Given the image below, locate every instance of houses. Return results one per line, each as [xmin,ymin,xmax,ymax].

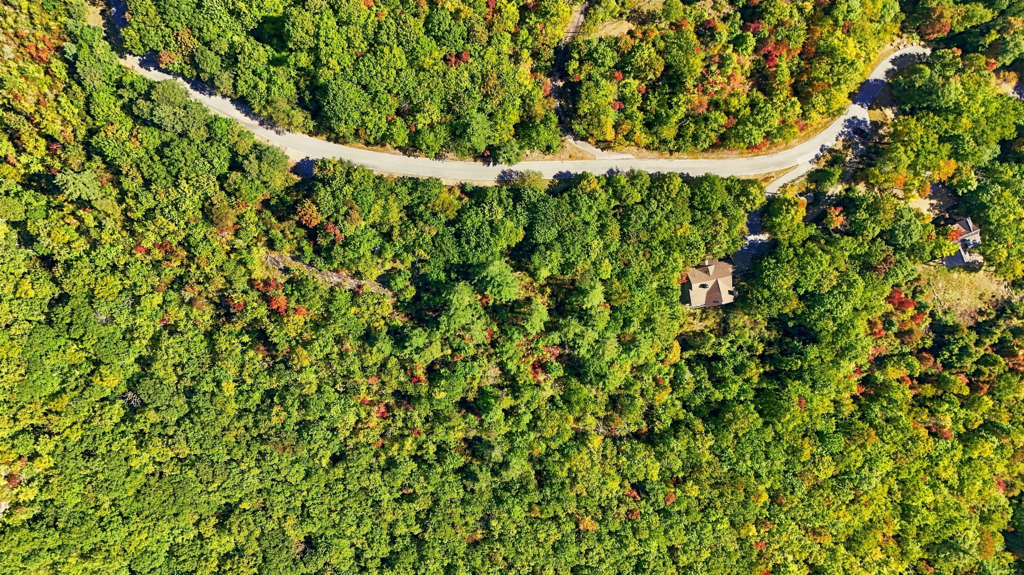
[684,257,740,310]
[940,216,980,272]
